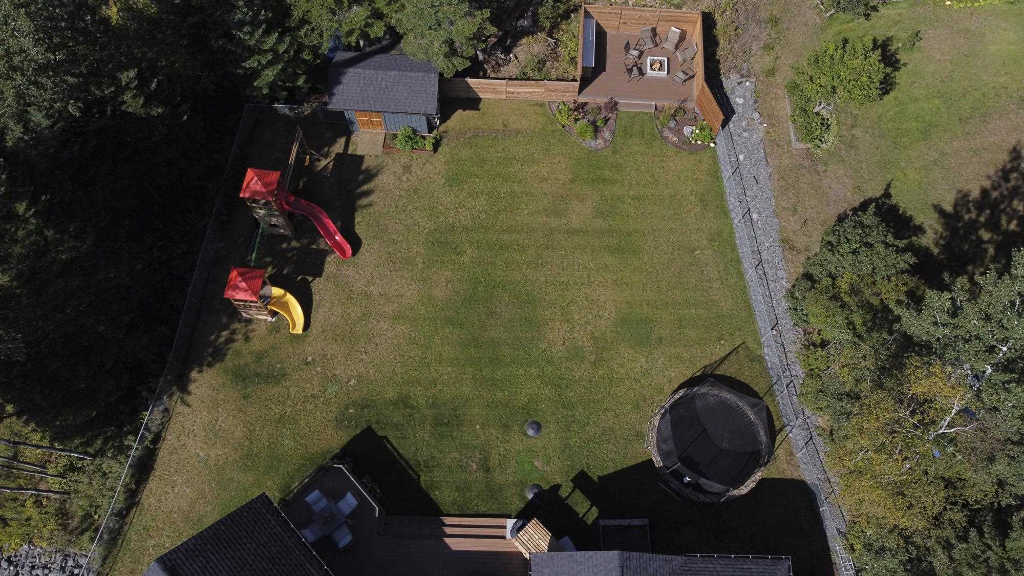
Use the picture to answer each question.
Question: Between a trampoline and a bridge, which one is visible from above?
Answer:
trampoline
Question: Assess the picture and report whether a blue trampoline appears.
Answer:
No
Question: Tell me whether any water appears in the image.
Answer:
No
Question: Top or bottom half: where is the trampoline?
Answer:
bottom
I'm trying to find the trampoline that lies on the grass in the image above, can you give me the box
[642,371,788,510]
